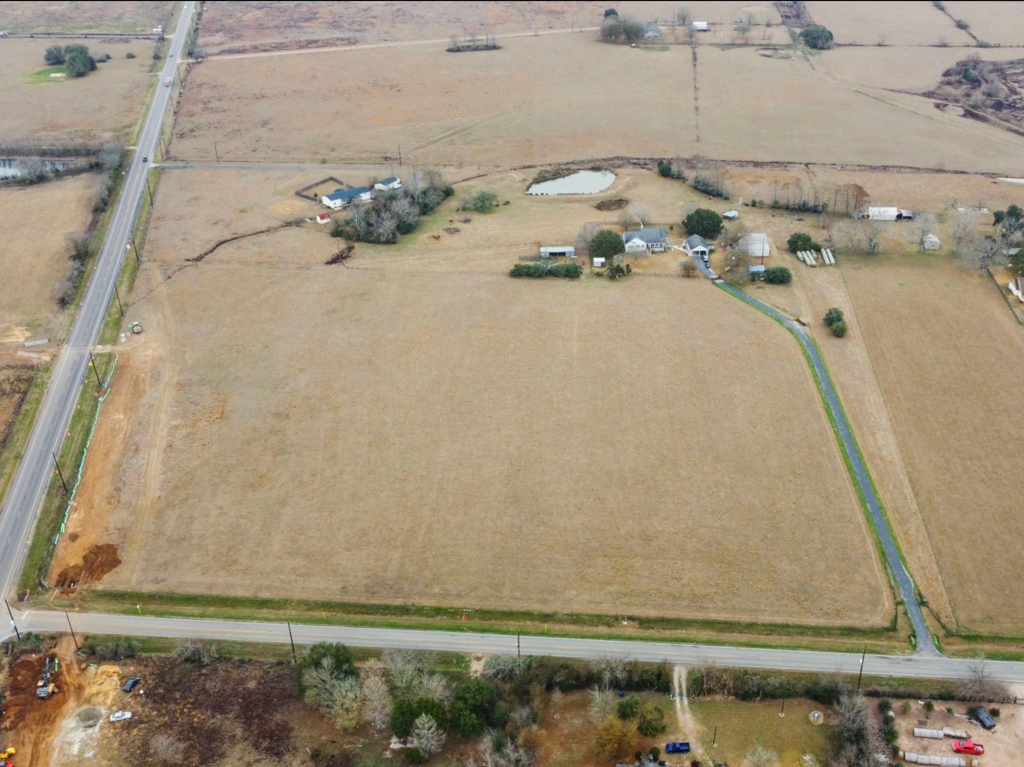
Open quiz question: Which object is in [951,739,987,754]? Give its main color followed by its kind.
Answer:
red vehicle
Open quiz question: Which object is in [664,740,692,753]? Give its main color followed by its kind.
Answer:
blue vehicle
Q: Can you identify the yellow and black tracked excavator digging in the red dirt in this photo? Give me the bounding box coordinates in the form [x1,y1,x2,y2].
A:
[35,659,53,701]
